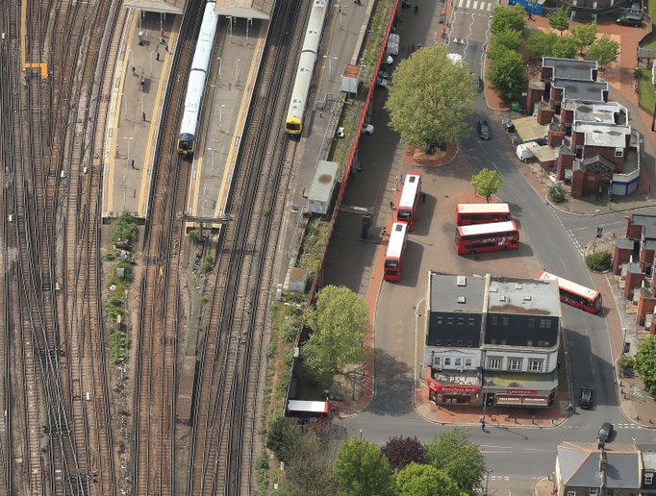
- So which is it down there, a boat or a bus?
bus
